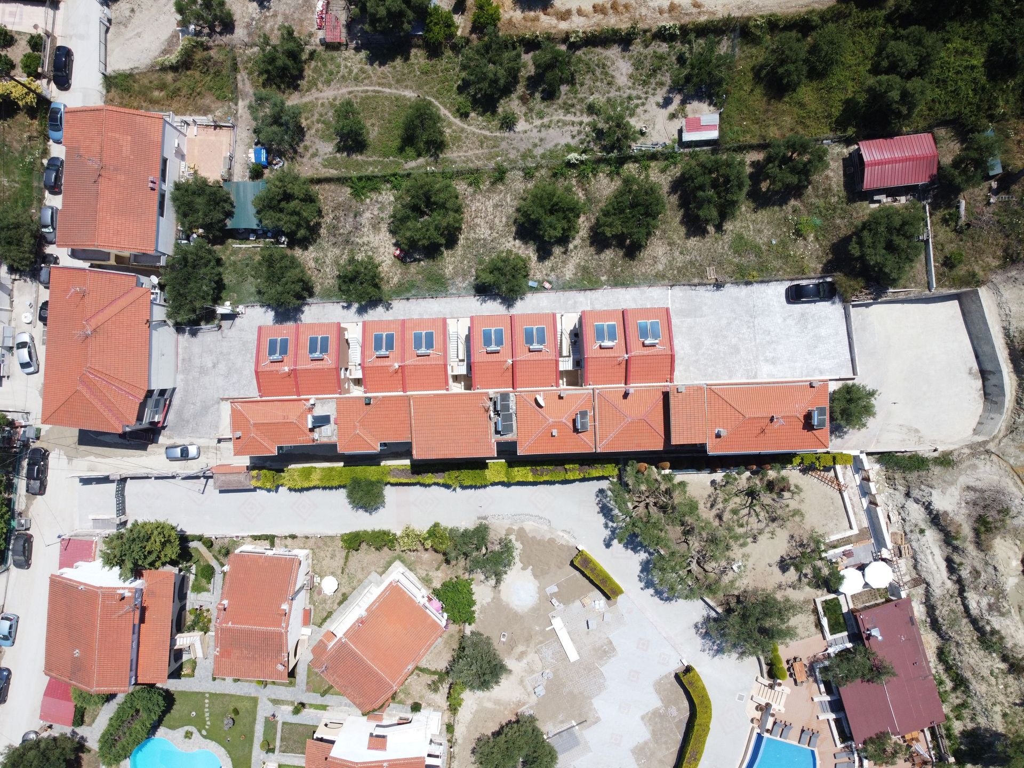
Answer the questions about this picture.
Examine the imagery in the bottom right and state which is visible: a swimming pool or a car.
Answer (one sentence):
Looking in the bottom right, you will find a swimming pool.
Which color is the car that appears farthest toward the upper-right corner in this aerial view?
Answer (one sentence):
From above, the car that appears farthest toward the upper-right corner appears black.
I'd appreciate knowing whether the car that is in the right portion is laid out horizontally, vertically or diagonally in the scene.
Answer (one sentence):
The car that is in the right portion is oriented horizontally.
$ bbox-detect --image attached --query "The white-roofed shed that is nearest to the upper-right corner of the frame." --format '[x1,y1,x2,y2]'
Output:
[680,113,719,146]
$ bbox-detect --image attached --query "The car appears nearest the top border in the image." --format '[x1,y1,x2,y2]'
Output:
[50,45,77,92]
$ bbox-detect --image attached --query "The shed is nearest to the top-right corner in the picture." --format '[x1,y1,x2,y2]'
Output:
[857,133,938,205]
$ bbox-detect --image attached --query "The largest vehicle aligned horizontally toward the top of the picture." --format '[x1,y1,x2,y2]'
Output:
[785,280,835,303]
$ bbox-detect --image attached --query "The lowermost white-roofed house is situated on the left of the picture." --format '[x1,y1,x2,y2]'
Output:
[306,696,443,768]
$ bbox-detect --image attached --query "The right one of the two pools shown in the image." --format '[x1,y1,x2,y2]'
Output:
[743,732,822,768]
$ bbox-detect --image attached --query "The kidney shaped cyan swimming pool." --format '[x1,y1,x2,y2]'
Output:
[127,734,225,768]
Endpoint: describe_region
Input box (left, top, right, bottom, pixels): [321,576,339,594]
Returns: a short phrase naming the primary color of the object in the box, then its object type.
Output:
white umbrella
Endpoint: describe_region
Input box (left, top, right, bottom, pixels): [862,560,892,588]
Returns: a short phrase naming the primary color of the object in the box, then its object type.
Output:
white umbrella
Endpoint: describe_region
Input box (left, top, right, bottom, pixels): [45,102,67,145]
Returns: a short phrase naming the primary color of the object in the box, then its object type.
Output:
blue car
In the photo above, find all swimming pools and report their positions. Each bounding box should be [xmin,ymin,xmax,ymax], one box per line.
[127,734,225,768]
[743,732,822,768]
